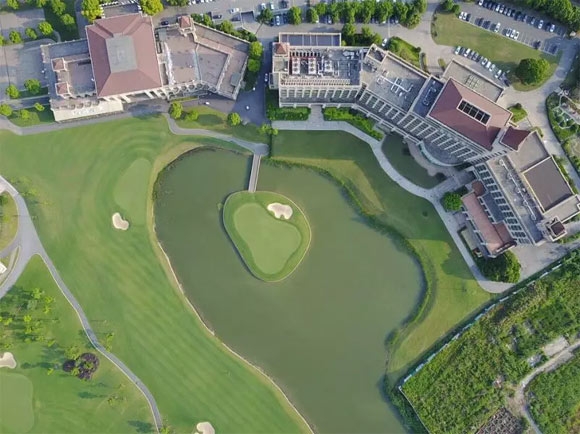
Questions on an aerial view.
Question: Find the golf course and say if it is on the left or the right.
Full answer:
You can find the golf course on the left side of the picture.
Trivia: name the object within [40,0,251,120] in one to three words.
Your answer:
building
